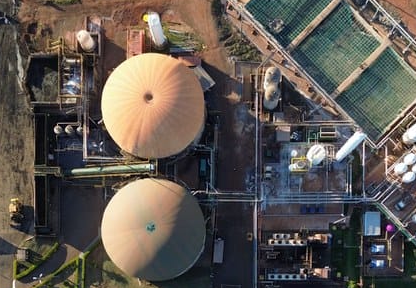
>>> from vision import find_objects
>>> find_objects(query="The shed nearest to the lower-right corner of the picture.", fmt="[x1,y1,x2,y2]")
[361,212,380,236]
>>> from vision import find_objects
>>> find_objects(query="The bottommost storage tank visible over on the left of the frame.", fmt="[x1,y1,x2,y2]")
[99,176,207,283]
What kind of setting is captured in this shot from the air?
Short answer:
industrial area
